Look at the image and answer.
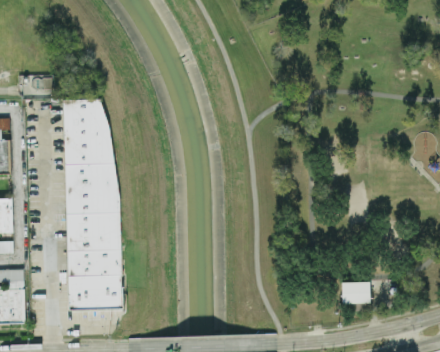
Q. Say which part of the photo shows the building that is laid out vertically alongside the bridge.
left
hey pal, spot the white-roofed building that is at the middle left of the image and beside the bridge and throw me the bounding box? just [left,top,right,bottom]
[63,100,124,310]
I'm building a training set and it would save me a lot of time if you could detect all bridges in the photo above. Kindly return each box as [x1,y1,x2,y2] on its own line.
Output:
[130,334,278,352]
